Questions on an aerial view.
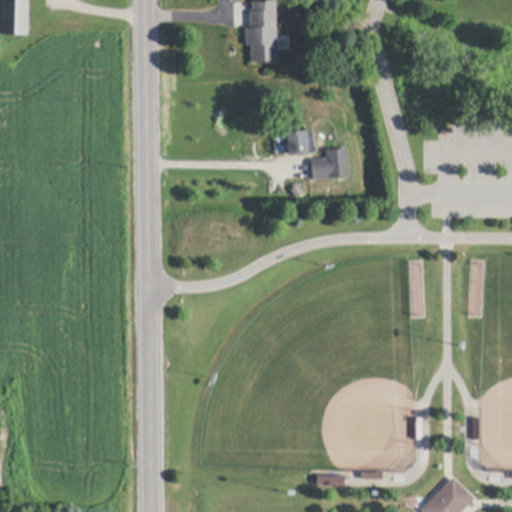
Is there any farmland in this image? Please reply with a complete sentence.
Yes, there is farmland in the image.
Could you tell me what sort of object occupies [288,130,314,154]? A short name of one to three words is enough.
building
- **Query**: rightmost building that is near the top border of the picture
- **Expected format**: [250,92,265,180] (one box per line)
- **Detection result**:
[246,0,278,62]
